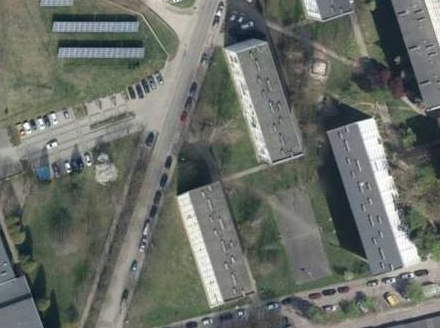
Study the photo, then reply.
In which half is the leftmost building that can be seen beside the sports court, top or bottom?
bottom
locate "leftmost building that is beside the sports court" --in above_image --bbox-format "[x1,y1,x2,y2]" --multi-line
[178,182,255,302]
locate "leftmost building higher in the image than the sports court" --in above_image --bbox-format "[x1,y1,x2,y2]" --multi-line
[224,42,303,163]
